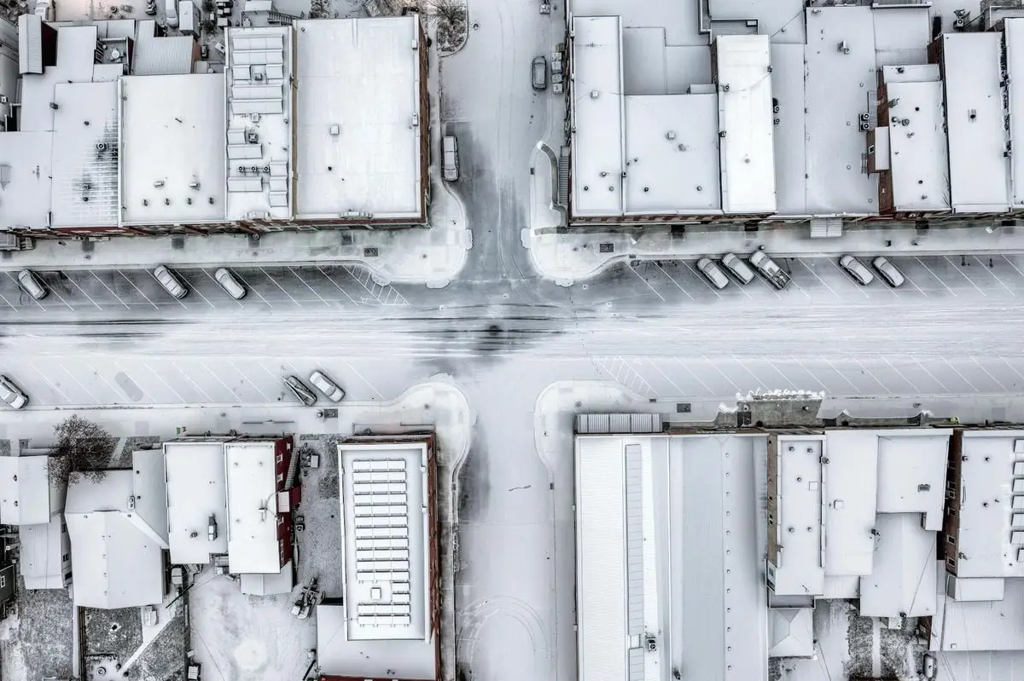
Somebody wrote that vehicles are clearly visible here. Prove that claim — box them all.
[144,0,161,17]
[291,586,313,616]
[215,265,248,300]
[19,267,50,301]
[154,263,190,300]
[161,0,181,29]
[750,250,791,289]
[920,652,938,679]
[441,136,459,182]
[288,376,318,407]
[838,254,873,287]
[697,256,728,290]
[310,370,345,403]
[0,373,30,408]
[870,255,905,289]
[721,252,755,286]
[531,55,547,92]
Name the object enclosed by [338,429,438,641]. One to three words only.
building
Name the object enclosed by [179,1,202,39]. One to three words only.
trailer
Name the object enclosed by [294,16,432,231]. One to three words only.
building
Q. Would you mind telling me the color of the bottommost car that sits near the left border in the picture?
white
